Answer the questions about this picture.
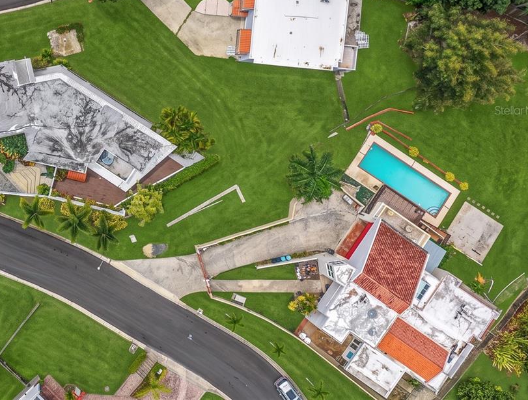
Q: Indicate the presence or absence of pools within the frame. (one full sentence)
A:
Yes, you can see a pool in this photo.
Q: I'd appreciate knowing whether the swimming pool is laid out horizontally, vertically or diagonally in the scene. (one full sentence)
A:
The swimming pool is oriented diagonally.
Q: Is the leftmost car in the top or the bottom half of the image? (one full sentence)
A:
The bottom half of the photo is where the leftmost car is.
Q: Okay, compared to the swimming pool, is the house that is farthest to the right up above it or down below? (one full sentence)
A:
The house that is farthest to the right is below the swimming pool.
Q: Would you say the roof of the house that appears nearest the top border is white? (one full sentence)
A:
Yes, the roof of the house that appears nearest the top border appears white.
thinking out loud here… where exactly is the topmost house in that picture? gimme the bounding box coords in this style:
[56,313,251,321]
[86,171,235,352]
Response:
[227,0,358,70]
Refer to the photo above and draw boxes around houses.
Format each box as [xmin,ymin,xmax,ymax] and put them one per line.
[17,372,43,400]
[0,58,178,193]
[305,204,504,399]
[227,0,358,70]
